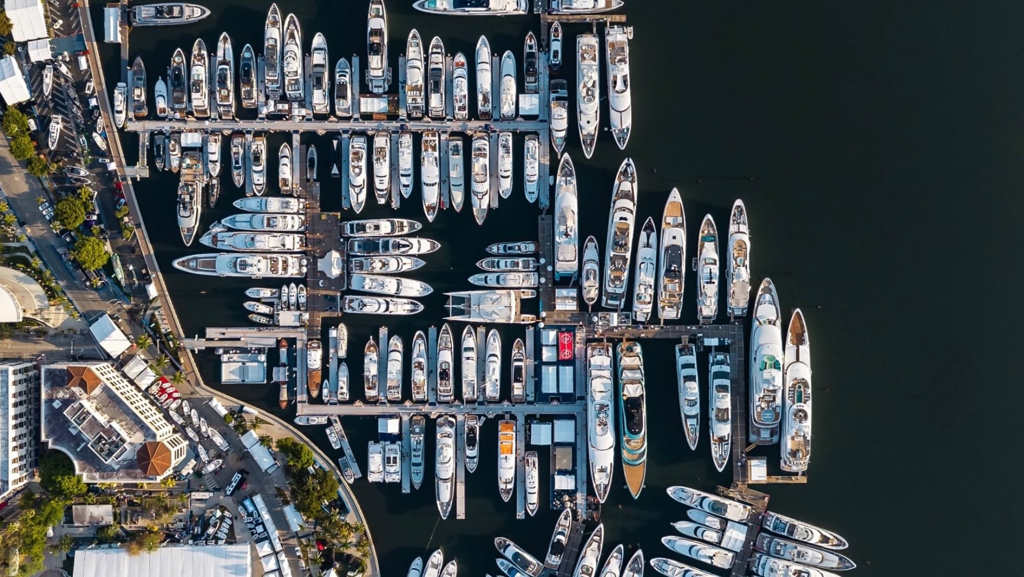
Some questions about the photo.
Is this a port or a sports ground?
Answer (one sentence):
What you see here is a port.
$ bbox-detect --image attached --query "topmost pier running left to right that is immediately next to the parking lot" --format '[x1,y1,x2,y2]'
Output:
[127,120,550,132]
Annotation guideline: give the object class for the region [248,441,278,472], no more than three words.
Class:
tent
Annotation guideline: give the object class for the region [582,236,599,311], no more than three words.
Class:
boat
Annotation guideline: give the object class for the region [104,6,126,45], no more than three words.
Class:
shed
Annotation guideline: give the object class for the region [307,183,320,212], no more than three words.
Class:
pier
